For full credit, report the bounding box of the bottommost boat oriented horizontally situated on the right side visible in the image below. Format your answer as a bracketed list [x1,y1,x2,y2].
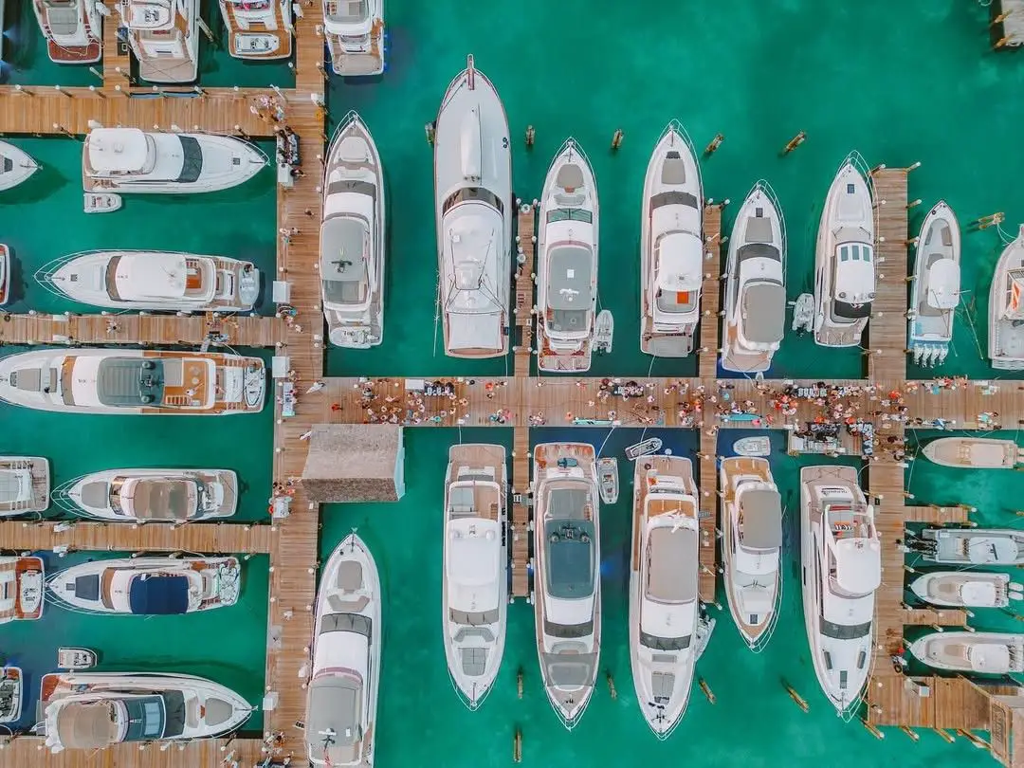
[910,630,1024,674]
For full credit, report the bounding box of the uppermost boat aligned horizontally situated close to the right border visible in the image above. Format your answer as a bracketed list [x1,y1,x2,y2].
[921,438,1024,468]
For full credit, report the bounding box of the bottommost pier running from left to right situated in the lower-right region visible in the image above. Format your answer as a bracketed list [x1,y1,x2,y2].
[868,675,992,729]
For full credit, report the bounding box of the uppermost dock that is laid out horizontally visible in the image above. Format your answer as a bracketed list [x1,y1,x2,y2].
[0,87,295,134]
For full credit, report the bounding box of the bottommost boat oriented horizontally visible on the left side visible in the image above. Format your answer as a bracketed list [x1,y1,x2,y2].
[41,666,253,747]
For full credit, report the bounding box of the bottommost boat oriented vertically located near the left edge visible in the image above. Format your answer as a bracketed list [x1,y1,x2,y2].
[0,665,25,721]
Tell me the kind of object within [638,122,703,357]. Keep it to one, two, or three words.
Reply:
boat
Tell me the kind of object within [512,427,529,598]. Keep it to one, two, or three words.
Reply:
pier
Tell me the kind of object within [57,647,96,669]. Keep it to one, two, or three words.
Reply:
boat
